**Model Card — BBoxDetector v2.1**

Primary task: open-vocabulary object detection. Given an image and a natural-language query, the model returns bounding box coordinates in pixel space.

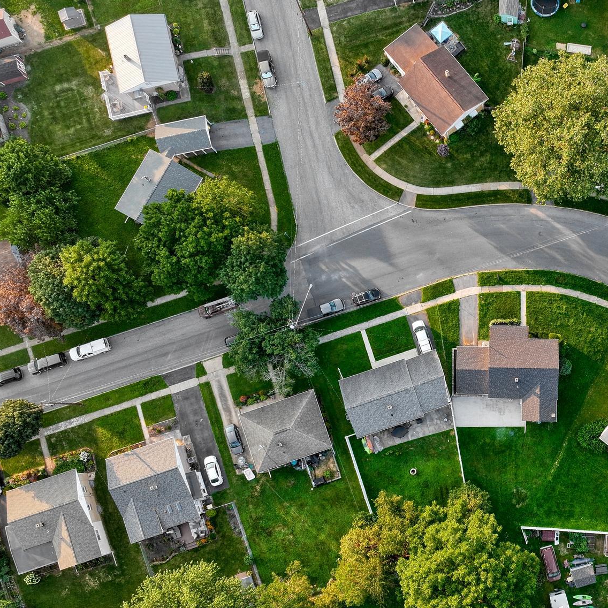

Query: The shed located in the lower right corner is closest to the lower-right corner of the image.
[571,562,596,588]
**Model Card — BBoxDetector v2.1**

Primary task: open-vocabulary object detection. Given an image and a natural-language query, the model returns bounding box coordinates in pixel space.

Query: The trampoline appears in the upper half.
[530,0,560,18]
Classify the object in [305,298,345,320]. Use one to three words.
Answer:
truck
